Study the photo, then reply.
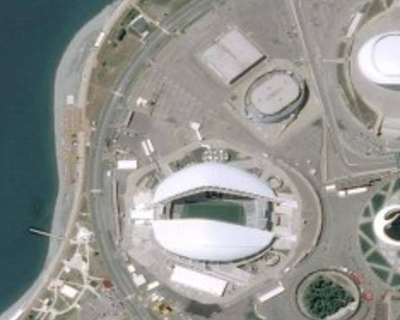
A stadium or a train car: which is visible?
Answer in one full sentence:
Of the two, only a stadium appears.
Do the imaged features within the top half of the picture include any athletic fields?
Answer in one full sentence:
No, I can find no athletic field within the top half of the picture.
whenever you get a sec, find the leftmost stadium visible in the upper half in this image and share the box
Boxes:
[243,68,310,122]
